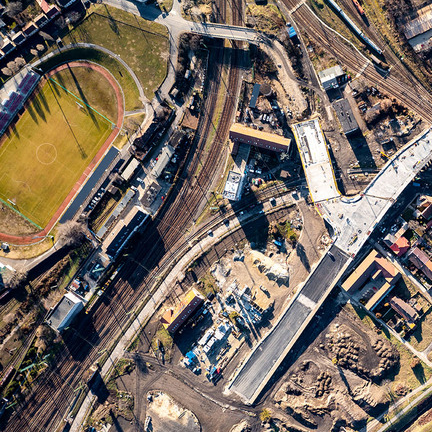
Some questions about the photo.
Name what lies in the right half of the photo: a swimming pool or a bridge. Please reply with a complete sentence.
It is a bridge that can be seen in the right half of the photo.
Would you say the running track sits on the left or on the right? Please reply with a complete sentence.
The running track sits on the left side.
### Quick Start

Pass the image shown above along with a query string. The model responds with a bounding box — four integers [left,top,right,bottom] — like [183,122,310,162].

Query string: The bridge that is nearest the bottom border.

[229,118,432,402]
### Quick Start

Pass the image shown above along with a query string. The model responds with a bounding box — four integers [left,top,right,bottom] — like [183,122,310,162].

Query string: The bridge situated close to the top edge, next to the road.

[173,17,275,48]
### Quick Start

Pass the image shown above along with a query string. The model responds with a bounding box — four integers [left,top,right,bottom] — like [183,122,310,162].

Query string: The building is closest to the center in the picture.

[224,171,246,201]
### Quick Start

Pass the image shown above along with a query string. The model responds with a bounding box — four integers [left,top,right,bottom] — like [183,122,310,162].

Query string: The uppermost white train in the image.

[329,0,379,51]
